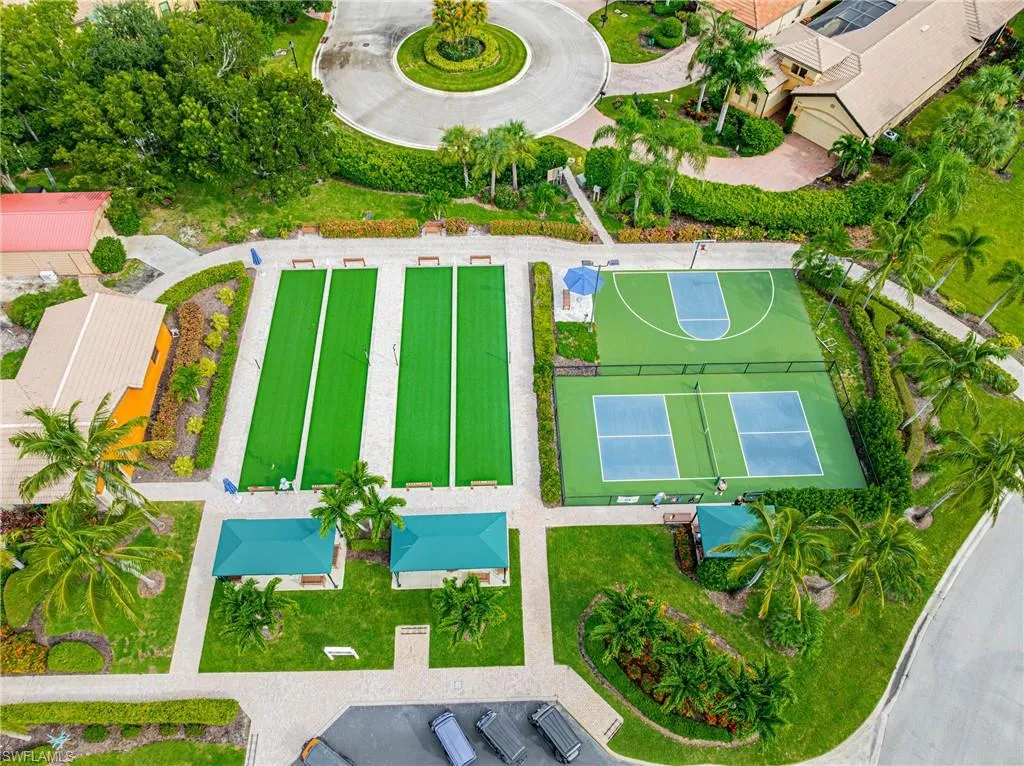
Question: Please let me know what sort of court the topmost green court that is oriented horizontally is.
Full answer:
It looks like the topmost green court that is oriented horizontally is a basketball court.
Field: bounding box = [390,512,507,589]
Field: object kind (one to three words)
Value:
building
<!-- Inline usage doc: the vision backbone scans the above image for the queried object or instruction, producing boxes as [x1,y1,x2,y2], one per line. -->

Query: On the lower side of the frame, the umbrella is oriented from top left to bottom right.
[221,477,245,506]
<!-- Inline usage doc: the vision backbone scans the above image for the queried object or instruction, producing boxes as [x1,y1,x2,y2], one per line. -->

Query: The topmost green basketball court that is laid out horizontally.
[600,268,826,375]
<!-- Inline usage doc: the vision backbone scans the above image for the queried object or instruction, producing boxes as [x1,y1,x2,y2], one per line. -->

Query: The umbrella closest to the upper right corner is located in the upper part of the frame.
[562,267,602,305]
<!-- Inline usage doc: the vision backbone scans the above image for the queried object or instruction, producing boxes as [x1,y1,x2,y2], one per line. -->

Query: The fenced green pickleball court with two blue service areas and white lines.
[557,370,867,505]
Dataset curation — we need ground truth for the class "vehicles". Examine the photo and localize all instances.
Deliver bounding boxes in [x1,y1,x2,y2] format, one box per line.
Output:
[308,740,357,766]
[433,708,478,766]
[529,702,581,766]
[475,708,527,766]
